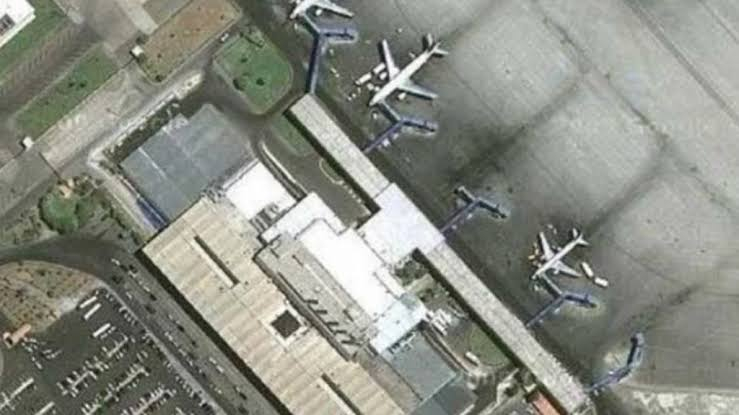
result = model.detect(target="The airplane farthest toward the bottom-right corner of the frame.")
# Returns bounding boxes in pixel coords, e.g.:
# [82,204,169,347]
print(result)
[533,227,588,278]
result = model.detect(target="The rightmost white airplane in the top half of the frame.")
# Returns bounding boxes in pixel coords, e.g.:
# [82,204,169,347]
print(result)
[370,34,448,104]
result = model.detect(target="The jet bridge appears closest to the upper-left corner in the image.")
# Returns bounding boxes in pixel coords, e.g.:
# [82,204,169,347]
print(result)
[304,12,358,95]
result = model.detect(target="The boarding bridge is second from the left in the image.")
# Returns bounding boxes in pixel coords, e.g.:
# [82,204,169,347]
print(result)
[364,99,438,153]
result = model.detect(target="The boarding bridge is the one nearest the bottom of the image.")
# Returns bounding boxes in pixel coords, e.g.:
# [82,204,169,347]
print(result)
[590,332,644,389]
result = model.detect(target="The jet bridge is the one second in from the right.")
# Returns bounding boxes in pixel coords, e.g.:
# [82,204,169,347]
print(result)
[526,275,598,326]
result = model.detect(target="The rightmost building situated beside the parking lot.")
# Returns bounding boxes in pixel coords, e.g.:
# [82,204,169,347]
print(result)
[121,105,477,415]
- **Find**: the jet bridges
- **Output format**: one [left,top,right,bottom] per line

[590,332,644,389]
[526,275,598,326]
[364,99,438,153]
[304,12,358,95]
[441,185,510,233]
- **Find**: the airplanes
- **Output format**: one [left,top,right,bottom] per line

[533,227,588,278]
[370,34,448,104]
[289,0,356,18]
